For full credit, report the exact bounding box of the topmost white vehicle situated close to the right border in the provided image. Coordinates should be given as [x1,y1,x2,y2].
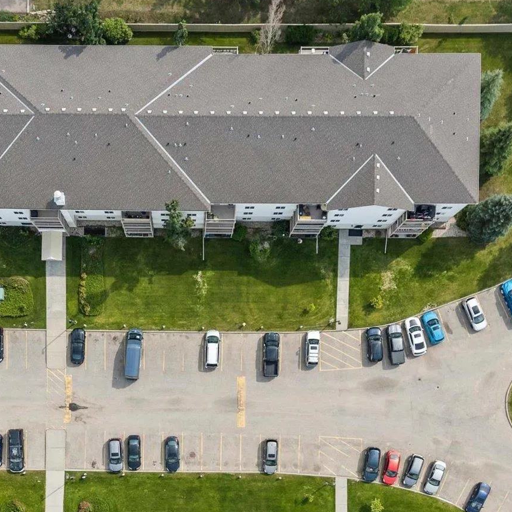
[461,297,487,333]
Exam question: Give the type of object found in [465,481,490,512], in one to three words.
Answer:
car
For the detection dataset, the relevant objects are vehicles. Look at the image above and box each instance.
[365,327,384,363]
[261,439,279,475]
[164,437,180,472]
[403,318,426,357]
[304,331,322,368]
[385,324,407,366]
[465,481,490,512]
[381,448,400,485]
[125,329,144,380]
[461,297,487,333]
[69,328,87,364]
[205,331,222,368]
[6,429,24,473]
[422,460,445,496]
[106,439,123,473]
[421,311,444,346]
[401,453,424,488]
[125,436,142,470]
[262,333,281,377]
[361,447,380,482]
[499,279,512,313]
